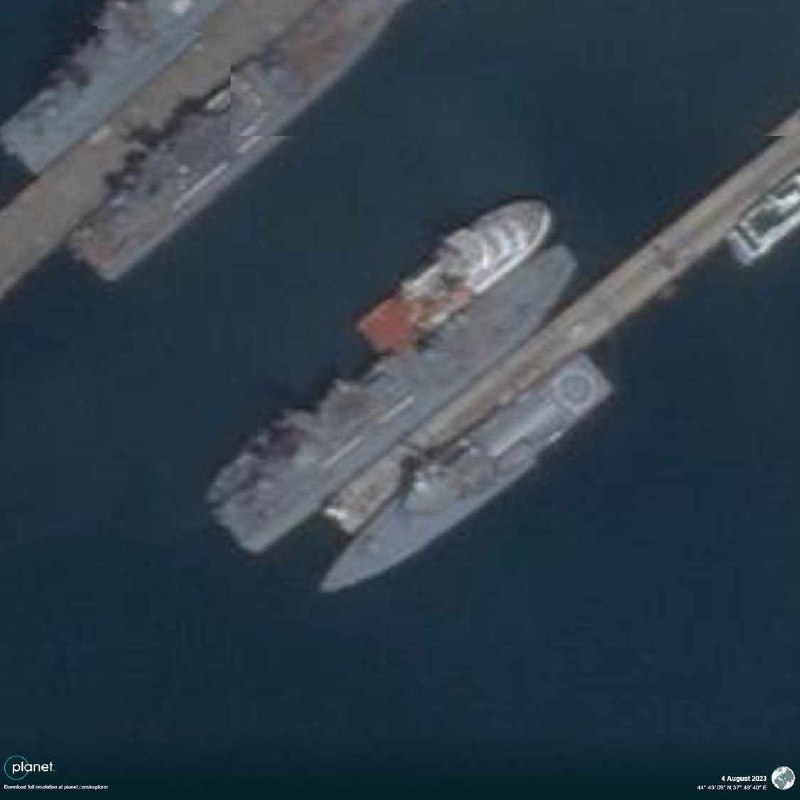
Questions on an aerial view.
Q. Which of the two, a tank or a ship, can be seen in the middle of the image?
ship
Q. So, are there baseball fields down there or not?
No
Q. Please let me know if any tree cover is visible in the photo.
No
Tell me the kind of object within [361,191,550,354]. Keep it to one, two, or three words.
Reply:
boat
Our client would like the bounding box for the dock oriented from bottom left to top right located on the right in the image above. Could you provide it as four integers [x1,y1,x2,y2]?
[325,111,800,538]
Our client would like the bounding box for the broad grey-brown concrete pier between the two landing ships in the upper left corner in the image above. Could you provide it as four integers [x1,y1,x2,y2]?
[0,0,335,300]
